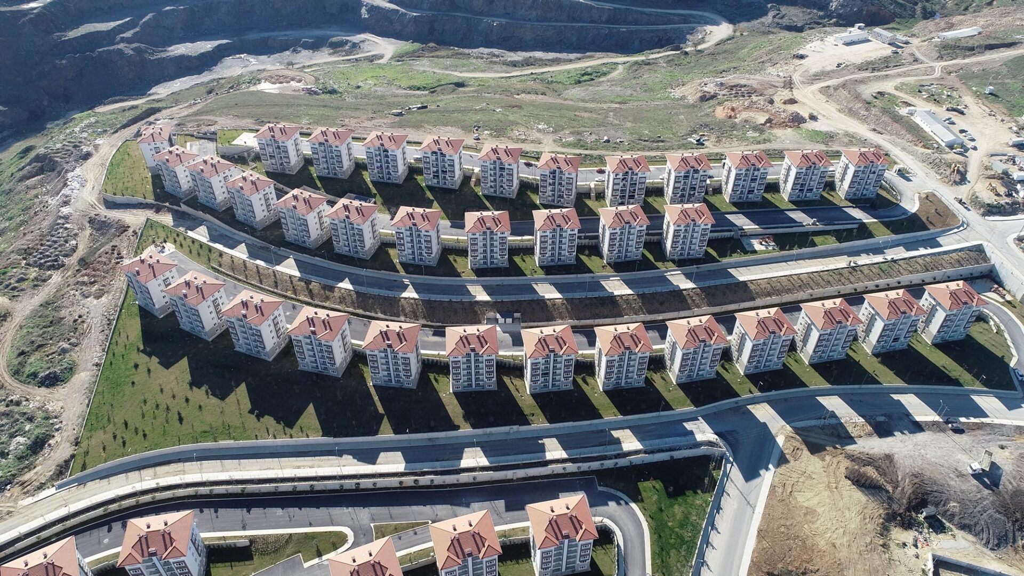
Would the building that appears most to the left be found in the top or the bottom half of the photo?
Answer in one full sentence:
Seen from above, the building that appears most to the left lies in the bottom half of the view.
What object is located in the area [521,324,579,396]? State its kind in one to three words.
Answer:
building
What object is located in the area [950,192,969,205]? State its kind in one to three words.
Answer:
vehicle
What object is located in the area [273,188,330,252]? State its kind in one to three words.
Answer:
building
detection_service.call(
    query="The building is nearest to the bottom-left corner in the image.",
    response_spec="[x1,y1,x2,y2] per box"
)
[2,535,98,576]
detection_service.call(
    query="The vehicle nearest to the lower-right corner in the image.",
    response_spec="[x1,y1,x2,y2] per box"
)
[965,455,1005,477]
